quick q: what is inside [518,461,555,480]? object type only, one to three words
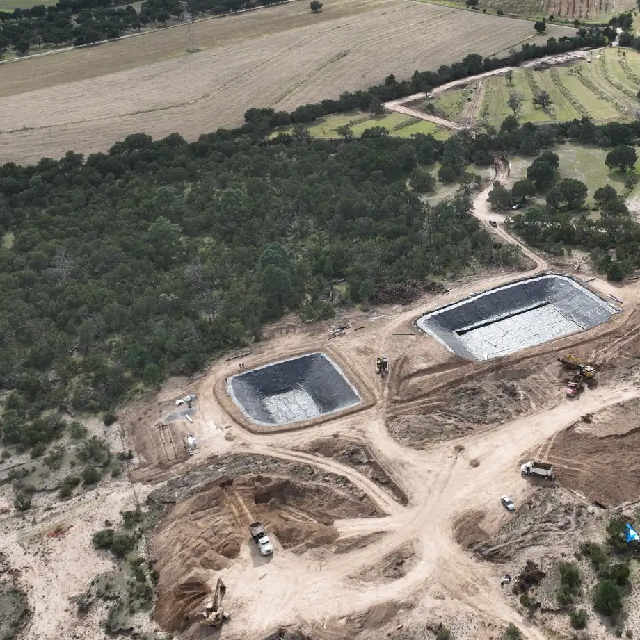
vehicle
